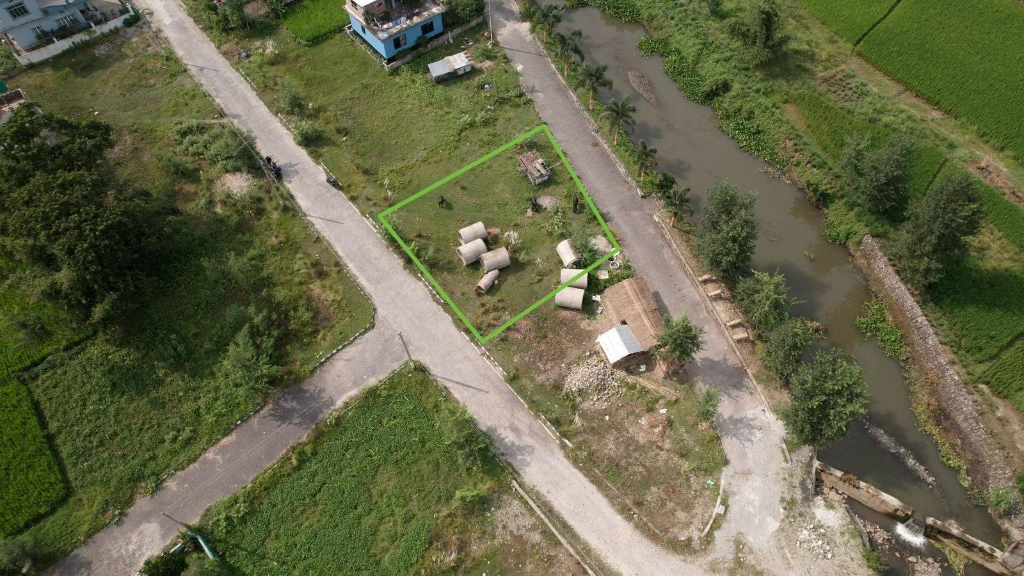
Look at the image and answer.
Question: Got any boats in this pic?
No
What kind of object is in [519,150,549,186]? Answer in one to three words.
shed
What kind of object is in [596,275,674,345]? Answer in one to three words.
shed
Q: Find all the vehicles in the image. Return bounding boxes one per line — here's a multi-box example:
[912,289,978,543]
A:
[325,170,337,185]
[271,163,282,179]
[265,158,280,170]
